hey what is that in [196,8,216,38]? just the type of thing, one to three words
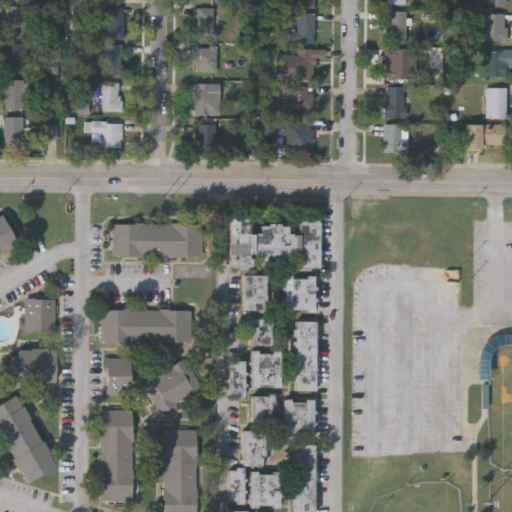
house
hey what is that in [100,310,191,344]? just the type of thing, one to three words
building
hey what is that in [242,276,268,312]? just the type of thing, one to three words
building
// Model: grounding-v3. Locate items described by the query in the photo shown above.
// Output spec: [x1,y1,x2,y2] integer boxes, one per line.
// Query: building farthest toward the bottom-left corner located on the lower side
[0,398,56,484]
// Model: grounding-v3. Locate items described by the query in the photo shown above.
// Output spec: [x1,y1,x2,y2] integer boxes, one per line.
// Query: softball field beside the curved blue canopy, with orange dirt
[491,346,512,470]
